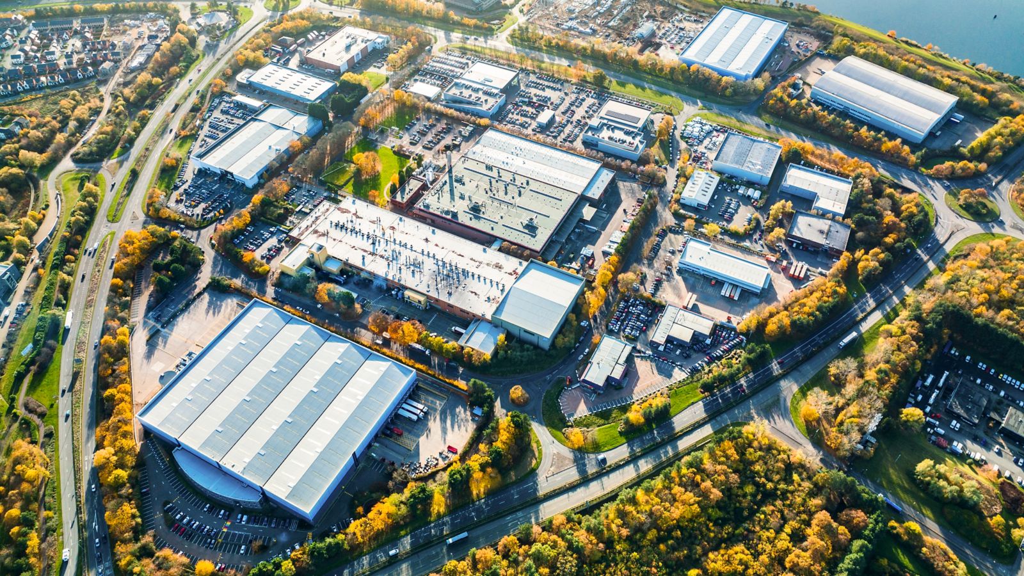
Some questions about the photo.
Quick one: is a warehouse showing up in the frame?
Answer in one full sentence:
Yes, you can see a warehouse in this photo.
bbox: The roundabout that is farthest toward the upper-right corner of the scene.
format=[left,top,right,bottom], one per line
[924,178,1024,236]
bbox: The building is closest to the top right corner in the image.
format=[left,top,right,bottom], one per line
[809,57,960,140]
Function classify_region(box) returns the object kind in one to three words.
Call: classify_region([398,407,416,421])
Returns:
vehicle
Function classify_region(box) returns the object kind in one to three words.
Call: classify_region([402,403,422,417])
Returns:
vehicle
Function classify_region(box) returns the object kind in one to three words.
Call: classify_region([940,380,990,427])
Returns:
building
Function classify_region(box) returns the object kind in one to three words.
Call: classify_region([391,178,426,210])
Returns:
house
